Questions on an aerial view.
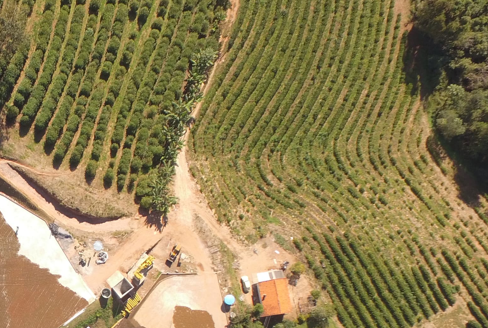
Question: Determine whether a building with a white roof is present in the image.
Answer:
No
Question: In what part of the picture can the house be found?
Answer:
bottom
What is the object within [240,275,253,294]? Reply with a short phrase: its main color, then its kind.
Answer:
white vehicle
